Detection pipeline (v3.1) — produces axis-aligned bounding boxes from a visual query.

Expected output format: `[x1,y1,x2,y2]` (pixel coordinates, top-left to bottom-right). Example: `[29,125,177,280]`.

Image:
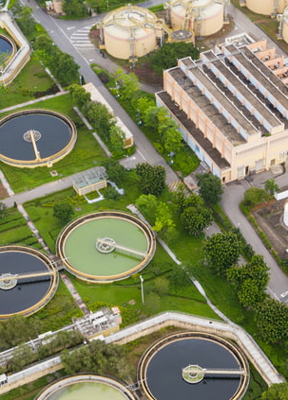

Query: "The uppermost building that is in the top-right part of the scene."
[153,33,288,182]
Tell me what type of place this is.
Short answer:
industrial area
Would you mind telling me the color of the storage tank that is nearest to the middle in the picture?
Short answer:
green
